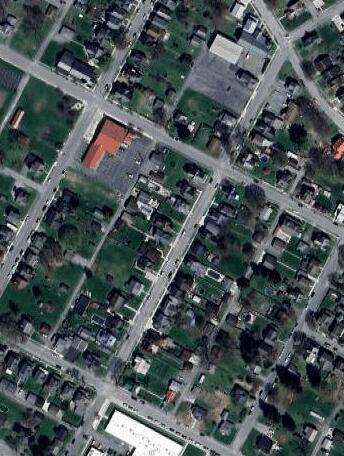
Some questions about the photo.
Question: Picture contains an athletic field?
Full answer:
No, I find no athletic field anywhere in the image.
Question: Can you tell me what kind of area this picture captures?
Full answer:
The area seen from above is a residential area.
